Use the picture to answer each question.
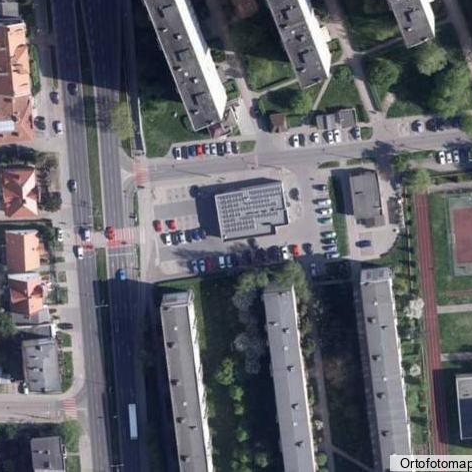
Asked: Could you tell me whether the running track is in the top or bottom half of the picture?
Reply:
bottom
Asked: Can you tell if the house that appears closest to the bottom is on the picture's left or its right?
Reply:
left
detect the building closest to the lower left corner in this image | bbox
[31,430,65,472]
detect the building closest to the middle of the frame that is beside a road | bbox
[215,178,289,241]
